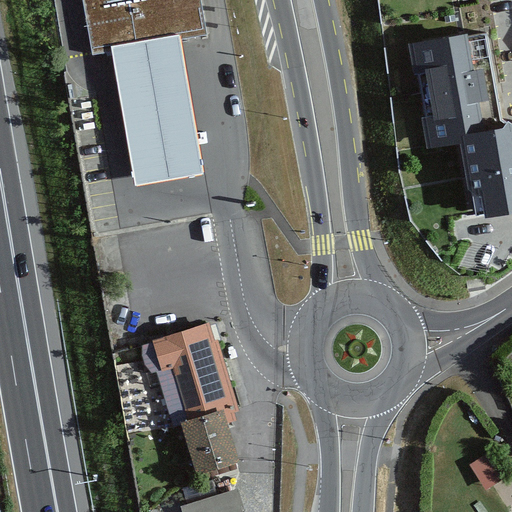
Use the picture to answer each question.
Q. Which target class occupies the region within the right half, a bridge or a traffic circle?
traffic circle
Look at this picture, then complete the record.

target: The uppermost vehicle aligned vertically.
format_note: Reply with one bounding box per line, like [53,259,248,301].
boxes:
[224,64,236,88]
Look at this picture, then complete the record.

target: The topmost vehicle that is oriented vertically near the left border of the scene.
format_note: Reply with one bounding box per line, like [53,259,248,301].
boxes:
[18,252,30,276]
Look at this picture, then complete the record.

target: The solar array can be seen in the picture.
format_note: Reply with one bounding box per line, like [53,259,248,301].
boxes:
[190,339,225,403]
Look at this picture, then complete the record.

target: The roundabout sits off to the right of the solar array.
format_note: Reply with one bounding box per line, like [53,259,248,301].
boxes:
[286,278,428,419]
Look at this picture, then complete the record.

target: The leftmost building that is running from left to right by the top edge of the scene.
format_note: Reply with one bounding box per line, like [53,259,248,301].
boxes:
[82,0,208,54]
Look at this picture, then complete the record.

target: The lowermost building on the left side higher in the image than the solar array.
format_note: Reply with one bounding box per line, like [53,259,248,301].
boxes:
[111,33,208,187]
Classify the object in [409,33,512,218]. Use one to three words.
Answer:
building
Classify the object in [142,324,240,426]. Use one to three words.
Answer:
building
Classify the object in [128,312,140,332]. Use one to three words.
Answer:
vehicle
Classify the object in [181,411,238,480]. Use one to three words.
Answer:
house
